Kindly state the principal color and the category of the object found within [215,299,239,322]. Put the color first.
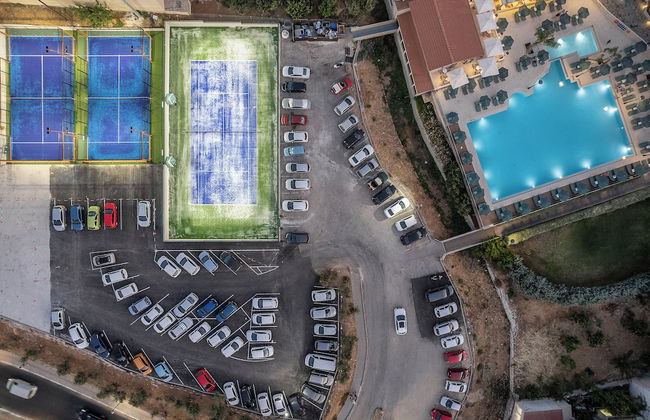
blue car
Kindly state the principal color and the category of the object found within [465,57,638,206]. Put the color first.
blue swimming pool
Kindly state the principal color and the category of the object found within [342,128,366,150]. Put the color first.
black car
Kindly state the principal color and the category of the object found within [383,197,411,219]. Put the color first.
white car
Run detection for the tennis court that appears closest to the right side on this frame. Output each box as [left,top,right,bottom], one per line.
[162,19,281,242]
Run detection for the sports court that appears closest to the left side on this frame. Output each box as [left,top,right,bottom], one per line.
[0,25,74,161]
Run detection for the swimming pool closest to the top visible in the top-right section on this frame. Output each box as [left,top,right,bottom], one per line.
[542,27,602,60]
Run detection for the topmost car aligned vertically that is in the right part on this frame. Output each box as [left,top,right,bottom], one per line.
[394,307,408,335]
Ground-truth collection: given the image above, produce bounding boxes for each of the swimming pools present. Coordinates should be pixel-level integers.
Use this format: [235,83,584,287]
[542,27,602,60]
[465,57,638,206]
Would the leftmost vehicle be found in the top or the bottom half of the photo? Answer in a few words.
bottom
